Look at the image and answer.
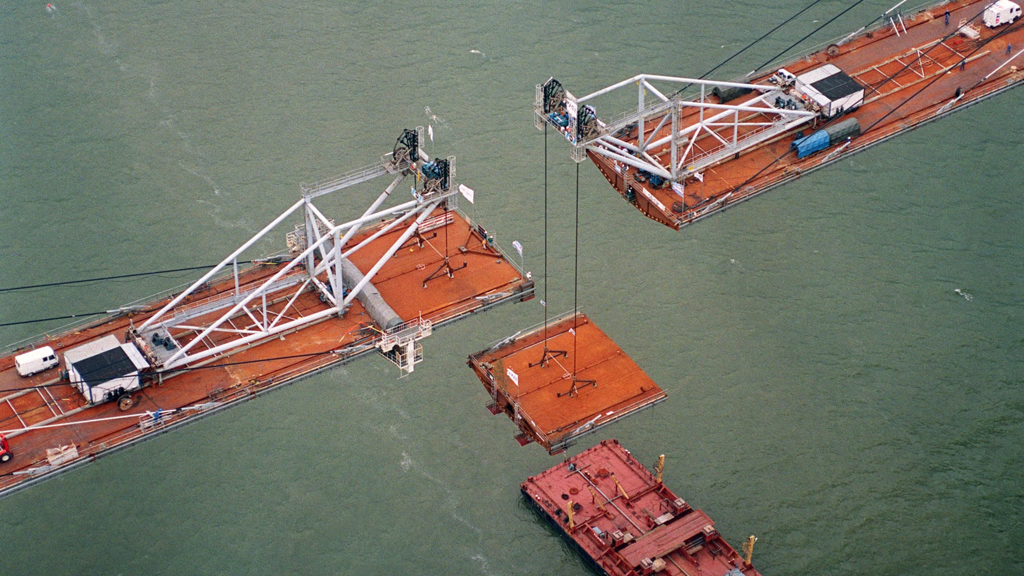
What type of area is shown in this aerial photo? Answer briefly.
port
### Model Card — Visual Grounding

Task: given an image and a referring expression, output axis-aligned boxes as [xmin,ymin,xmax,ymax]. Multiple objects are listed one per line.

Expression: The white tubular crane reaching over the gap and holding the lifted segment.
[530,72,826,185]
